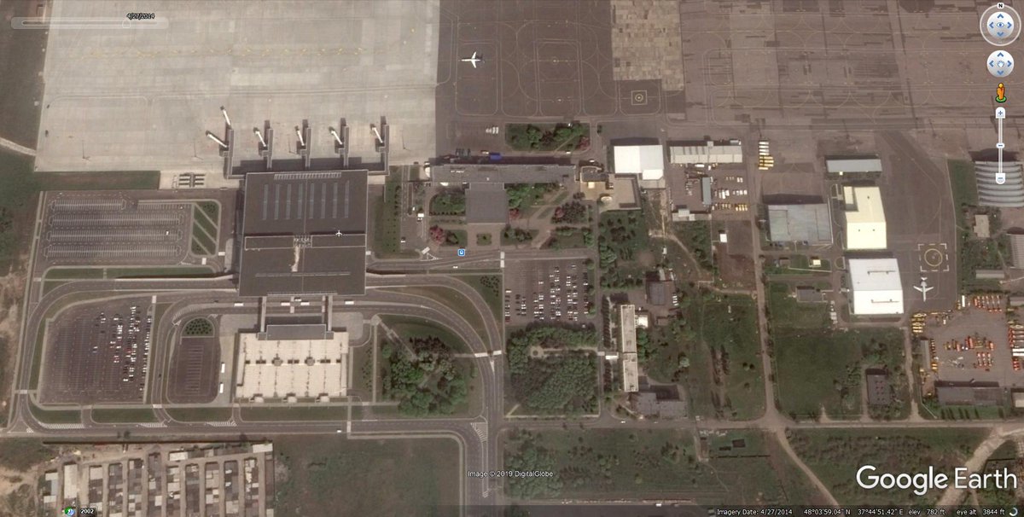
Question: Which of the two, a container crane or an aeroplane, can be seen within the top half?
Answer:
aeroplane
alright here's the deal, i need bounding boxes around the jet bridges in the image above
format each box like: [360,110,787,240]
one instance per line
[254,127,267,148]
[370,123,384,145]
[294,126,306,148]
[205,131,228,149]
[220,106,232,128]
[328,126,343,147]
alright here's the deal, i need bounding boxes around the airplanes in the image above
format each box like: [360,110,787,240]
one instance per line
[914,279,934,303]
[462,53,484,69]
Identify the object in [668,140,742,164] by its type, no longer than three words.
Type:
shed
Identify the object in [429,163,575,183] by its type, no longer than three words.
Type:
building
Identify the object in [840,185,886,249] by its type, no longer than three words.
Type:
hangar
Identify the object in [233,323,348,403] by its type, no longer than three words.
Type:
building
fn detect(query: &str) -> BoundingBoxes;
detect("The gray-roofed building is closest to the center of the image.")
[463,183,509,224]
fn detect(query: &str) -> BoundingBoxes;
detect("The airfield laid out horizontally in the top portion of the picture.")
[35,0,1024,331]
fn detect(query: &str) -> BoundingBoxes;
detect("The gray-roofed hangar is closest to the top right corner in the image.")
[972,160,1022,209]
